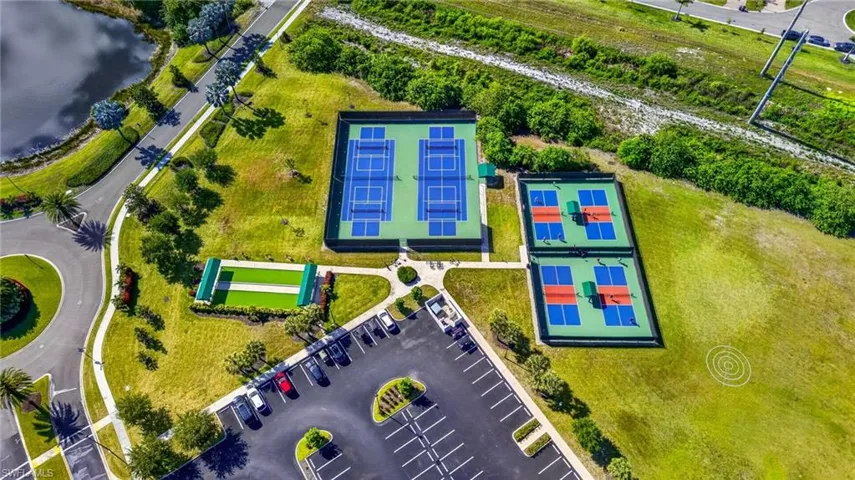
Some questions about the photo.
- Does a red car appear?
Yes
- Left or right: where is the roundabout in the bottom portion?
left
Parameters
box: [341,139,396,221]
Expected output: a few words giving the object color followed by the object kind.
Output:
blue tennis court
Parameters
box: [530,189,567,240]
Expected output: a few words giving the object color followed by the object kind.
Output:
blue sports court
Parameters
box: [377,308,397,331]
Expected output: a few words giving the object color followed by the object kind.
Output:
white car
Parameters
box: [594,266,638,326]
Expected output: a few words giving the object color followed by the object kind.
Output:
blue sports court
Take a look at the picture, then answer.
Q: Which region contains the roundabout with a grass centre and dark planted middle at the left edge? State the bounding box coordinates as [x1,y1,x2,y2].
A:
[0,227,98,376]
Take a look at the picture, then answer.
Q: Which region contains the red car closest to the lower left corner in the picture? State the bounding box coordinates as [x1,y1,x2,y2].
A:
[275,369,294,394]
